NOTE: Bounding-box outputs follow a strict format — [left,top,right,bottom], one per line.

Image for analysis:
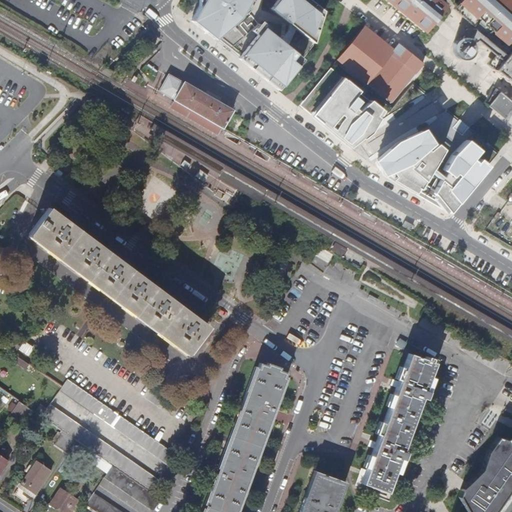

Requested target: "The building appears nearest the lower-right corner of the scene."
[454,436,512,512]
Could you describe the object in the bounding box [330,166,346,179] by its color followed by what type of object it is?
white vehicle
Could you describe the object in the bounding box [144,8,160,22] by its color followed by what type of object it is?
white vehicle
